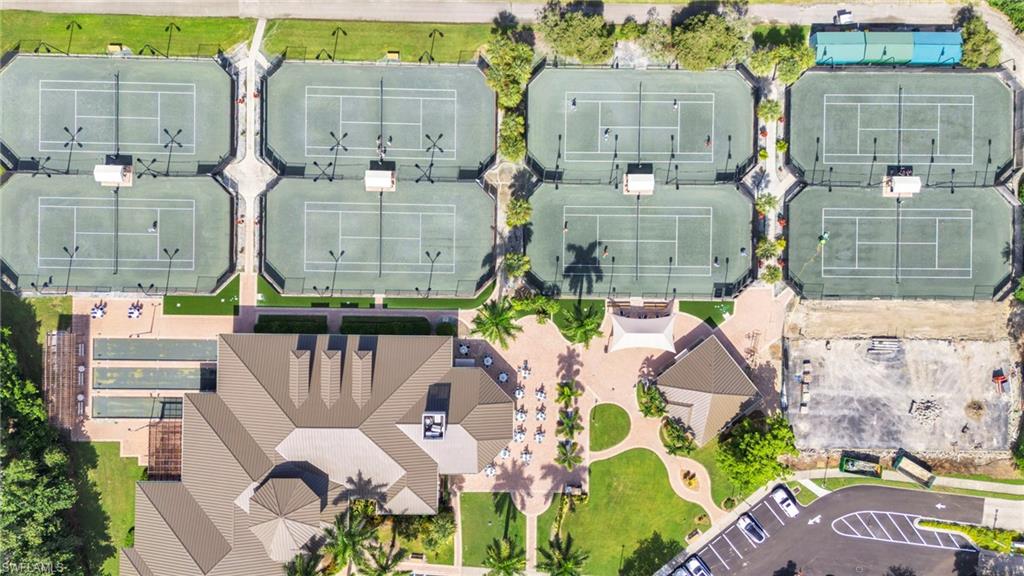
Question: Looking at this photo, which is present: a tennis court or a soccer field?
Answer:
tennis court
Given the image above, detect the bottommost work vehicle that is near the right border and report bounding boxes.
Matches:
[994,368,1009,393]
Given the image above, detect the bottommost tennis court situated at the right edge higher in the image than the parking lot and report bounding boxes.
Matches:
[794,185,1013,298]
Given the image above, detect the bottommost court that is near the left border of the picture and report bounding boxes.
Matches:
[0,173,226,291]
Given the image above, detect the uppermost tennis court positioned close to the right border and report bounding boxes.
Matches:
[794,73,1014,184]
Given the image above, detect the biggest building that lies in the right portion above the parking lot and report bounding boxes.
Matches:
[655,335,763,447]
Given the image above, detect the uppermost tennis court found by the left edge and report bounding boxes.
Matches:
[0,56,227,174]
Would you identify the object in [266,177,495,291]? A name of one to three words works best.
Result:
tennis court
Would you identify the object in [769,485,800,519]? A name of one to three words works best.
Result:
car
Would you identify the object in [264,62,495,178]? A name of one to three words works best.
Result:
tennis court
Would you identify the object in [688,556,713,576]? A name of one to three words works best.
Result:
car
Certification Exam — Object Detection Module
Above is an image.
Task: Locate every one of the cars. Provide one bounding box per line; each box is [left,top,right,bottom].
[769,485,800,519]
[688,556,713,576]
[674,568,690,576]
[738,512,764,542]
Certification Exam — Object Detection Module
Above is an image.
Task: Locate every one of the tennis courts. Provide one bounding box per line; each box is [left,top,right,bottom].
[266,177,495,291]
[526,183,752,294]
[526,69,753,182]
[0,173,226,291]
[794,73,1014,184]
[794,185,1013,298]
[264,62,495,178]
[0,56,227,174]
